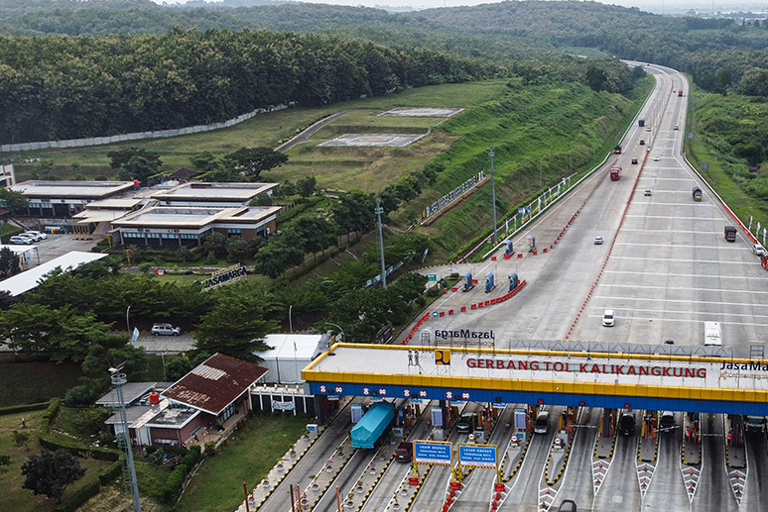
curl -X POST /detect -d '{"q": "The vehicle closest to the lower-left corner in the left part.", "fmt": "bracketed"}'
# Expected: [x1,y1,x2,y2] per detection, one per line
[149,323,180,337]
